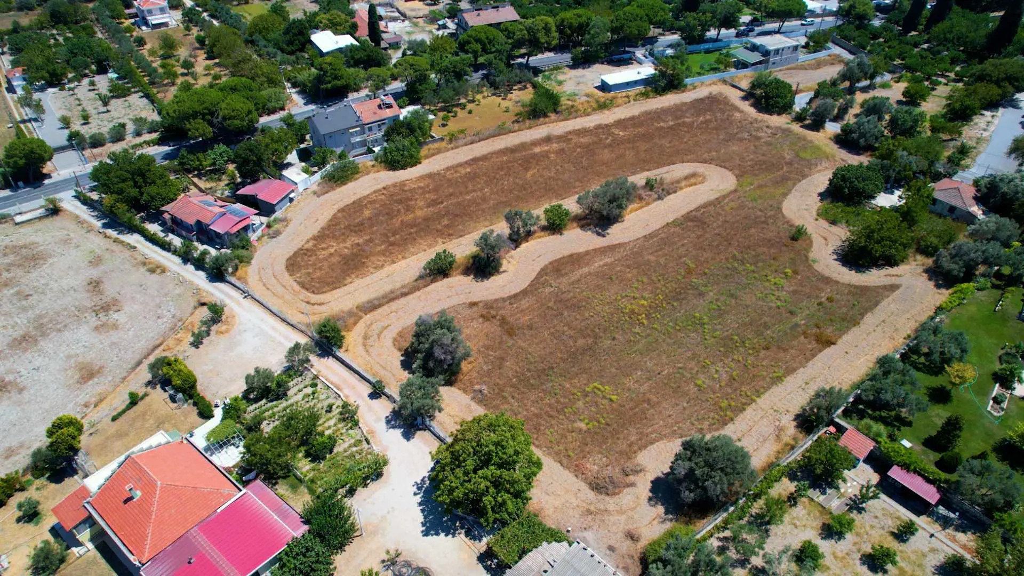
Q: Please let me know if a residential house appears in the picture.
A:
Yes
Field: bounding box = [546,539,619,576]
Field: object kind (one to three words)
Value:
barn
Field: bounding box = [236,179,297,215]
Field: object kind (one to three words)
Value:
building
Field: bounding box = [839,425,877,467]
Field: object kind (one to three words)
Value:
shed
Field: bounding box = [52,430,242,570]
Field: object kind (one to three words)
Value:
house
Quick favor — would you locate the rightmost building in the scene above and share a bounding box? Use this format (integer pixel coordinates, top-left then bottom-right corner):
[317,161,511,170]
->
[931,177,986,222]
